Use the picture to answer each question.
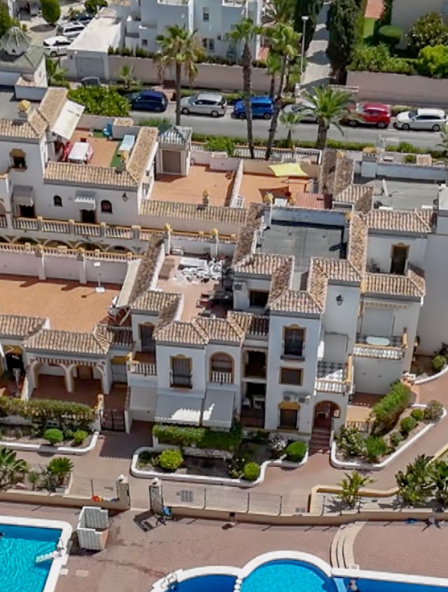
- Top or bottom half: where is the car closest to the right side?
top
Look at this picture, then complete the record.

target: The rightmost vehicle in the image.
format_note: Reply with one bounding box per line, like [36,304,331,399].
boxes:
[396,107,448,131]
